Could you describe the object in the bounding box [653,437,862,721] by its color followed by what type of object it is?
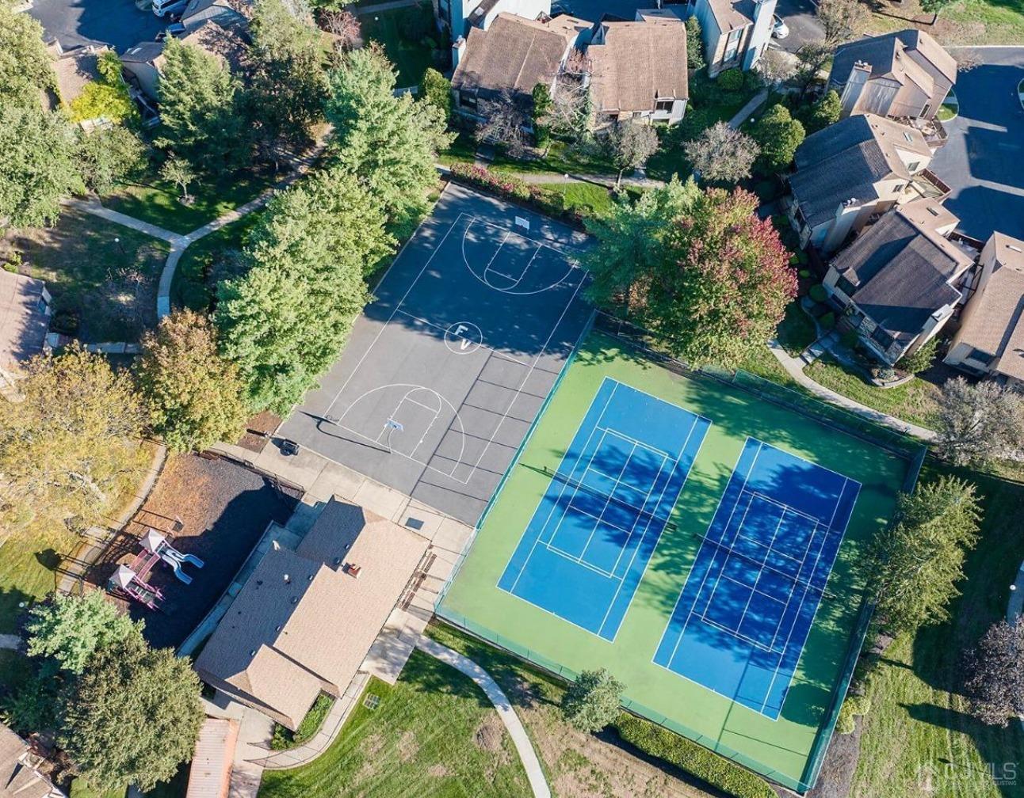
blue tennis court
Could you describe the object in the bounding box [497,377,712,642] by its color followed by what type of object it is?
blue tennis court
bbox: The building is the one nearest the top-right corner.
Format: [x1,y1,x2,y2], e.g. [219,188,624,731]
[828,27,957,146]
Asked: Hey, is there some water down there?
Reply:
No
